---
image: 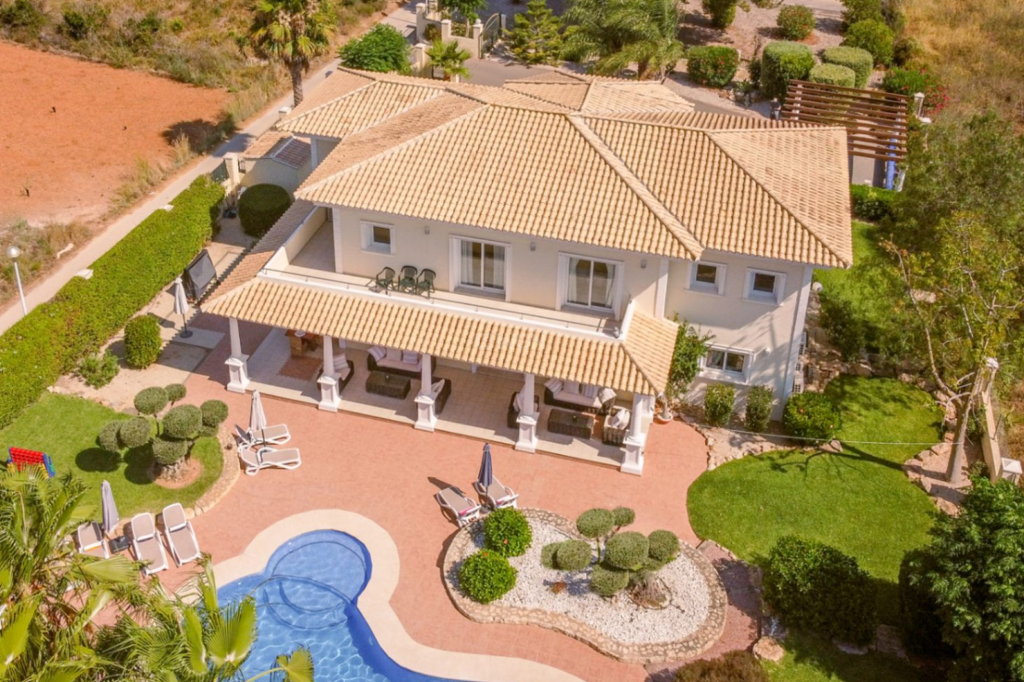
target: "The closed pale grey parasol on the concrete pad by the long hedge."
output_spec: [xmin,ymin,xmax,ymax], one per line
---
[173,277,193,339]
